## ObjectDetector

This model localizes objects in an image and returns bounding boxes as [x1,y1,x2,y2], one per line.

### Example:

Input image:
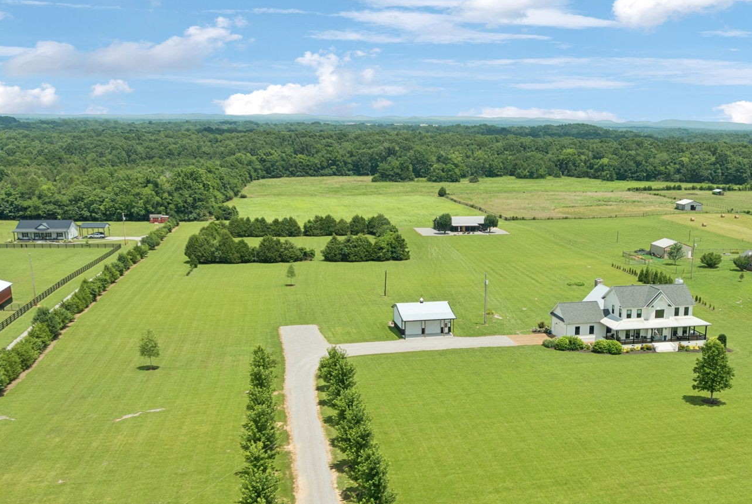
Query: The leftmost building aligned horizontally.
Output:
[12,220,78,240]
